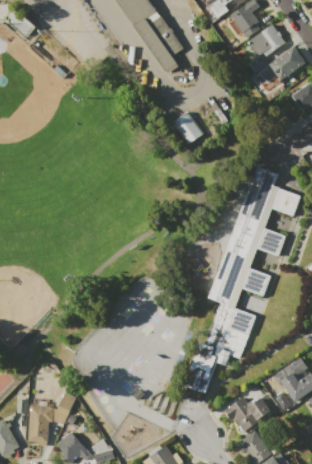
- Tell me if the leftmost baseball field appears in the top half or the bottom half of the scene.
bottom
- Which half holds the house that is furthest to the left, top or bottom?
bottom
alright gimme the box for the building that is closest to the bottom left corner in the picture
[0,420,21,456]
